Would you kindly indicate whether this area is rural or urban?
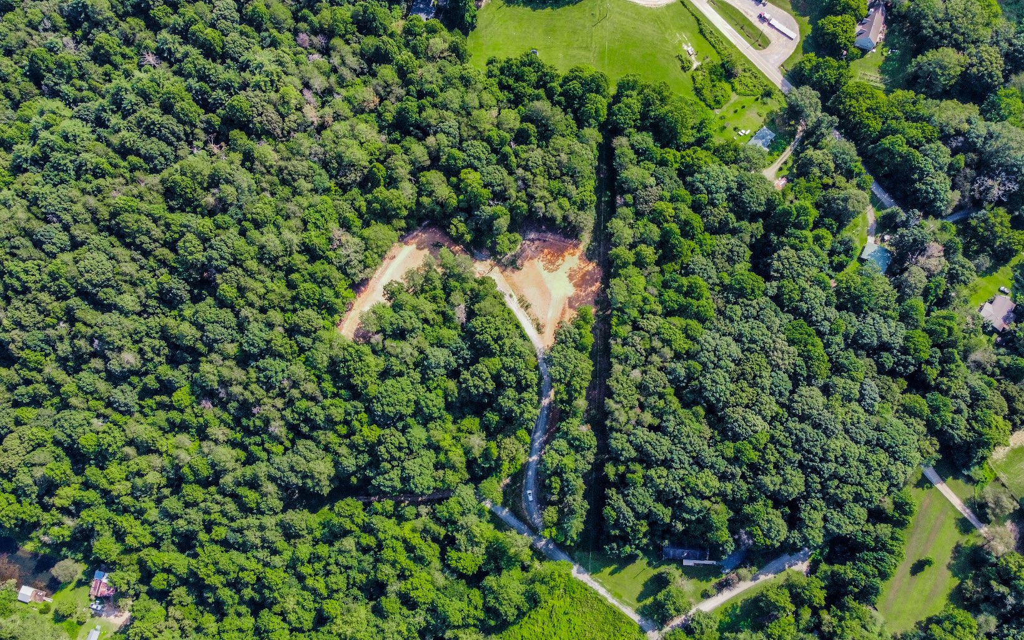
rural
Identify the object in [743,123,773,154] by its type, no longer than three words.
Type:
house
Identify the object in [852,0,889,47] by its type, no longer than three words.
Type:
house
